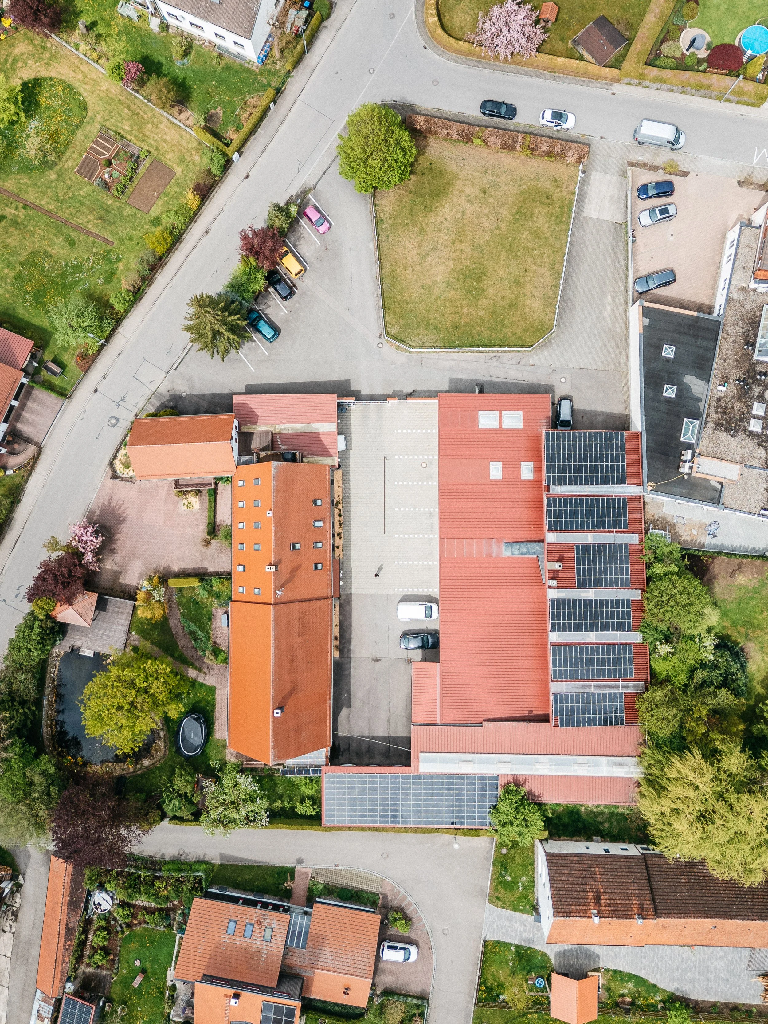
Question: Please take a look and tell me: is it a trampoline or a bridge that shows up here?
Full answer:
There is a trampoline in the scene.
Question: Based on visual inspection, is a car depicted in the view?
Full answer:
Yes, looking at the shot, I can spot a car.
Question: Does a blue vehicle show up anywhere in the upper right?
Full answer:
Yes, a blue vehicle appears in the upper right.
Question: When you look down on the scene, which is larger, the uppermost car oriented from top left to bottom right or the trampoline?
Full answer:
The trampoline is bigger than the car.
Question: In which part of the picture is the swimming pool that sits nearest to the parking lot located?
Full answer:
You can find the swimming pool that sits nearest to the parking lot in the top right area of the picture.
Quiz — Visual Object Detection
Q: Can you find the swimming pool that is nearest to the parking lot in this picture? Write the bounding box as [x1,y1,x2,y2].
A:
[736,22,768,63]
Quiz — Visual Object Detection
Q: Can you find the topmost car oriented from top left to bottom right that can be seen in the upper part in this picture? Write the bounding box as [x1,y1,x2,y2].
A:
[301,203,332,237]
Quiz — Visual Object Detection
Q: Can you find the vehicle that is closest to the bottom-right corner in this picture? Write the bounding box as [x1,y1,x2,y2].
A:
[380,940,418,963]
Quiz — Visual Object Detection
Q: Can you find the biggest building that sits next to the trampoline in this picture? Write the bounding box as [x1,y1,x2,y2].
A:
[226,461,339,766]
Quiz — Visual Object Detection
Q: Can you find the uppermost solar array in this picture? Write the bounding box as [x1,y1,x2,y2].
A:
[545,431,627,485]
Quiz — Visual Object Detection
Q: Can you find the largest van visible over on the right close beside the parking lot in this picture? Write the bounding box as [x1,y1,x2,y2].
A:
[632,121,685,151]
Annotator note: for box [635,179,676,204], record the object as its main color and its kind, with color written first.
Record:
blue car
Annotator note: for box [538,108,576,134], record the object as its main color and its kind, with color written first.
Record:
white car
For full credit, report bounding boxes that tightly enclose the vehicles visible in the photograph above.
[479,100,517,123]
[555,397,575,429]
[538,108,576,134]
[632,121,685,151]
[338,433,354,453]
[635,179,676,204]
[400,632,439,651]
[301,203,332,237]
[265,269,294,303]
[397,601,438,621]
[278,246,306,281]
[636,203,679,229]
[380,940,418,963]
[246,310,279,345]
[633,267,678,293]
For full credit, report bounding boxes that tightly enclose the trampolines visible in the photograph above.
[172,710,209,762]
